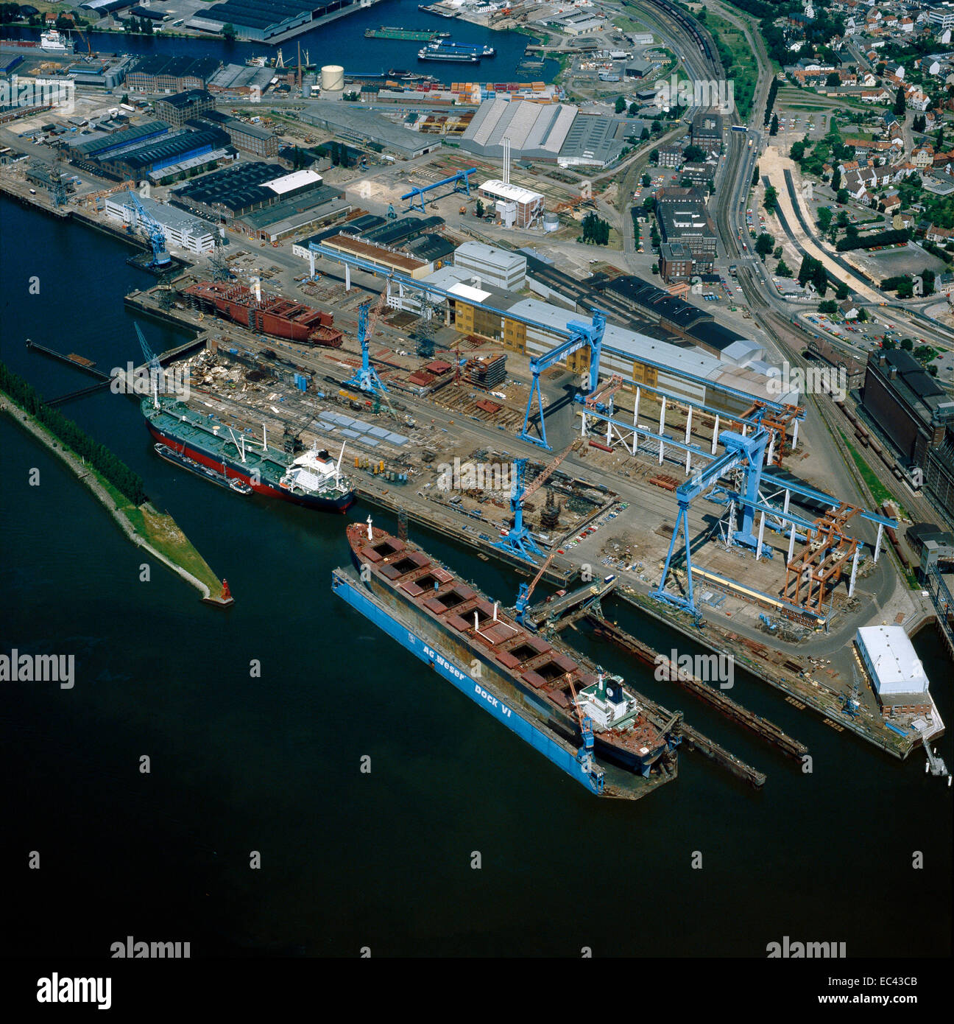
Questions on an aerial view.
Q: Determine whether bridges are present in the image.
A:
Yes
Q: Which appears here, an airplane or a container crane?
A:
container crane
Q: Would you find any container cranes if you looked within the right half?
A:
Yes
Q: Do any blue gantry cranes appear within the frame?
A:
Yes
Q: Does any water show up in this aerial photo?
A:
Yes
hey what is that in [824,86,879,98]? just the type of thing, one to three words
shed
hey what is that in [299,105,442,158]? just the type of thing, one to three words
building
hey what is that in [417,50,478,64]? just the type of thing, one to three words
ship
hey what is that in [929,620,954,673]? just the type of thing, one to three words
pier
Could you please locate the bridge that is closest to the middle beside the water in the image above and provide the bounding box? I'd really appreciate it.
[529,572,624,633]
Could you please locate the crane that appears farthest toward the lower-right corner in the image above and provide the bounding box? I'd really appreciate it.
[834,664,868,725]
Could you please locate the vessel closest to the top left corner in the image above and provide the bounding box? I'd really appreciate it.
[0,22,75,53]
